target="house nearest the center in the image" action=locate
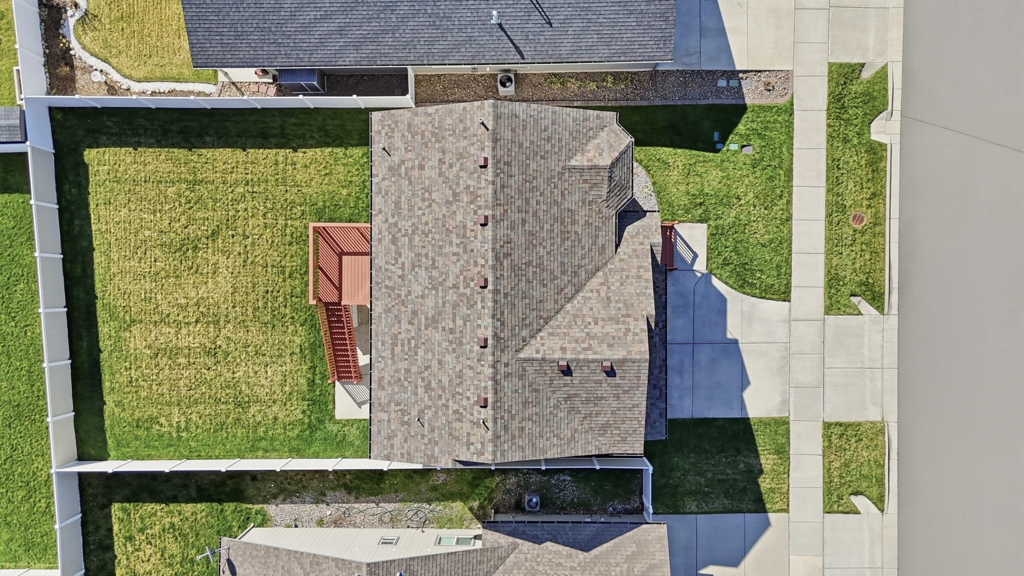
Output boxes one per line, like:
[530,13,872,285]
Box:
[370,100,667,464]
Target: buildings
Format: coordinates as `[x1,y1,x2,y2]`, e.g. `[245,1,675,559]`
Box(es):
[370,100,667,464]
[180,0,677,91]
[221,501,671,576]
[0,107,27,144]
